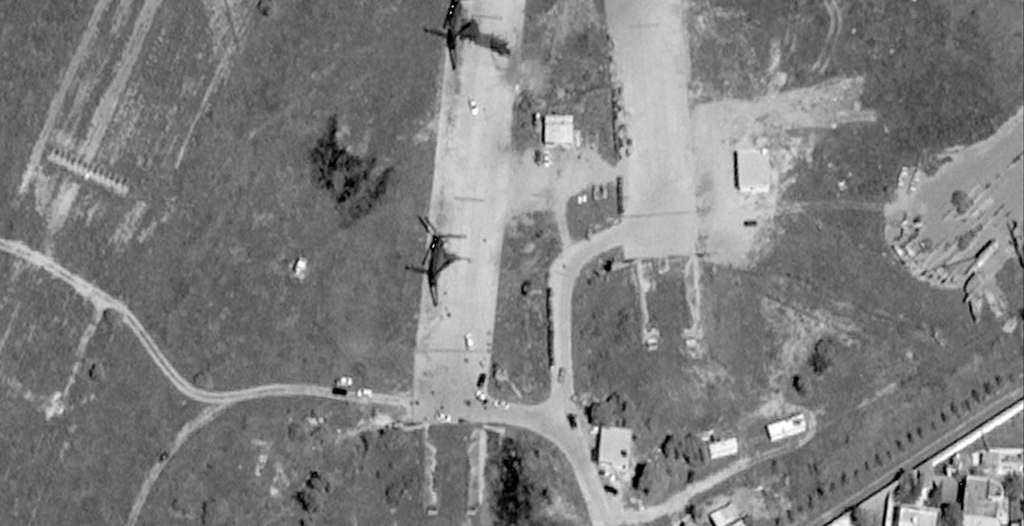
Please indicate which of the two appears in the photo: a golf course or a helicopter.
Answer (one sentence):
Looking from above, you can make out a helicopter.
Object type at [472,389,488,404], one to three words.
vehicle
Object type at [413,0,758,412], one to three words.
airport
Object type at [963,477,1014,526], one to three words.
house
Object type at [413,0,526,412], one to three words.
runway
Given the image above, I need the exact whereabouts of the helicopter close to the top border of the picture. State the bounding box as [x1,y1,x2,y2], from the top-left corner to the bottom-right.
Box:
[426,0,473,63]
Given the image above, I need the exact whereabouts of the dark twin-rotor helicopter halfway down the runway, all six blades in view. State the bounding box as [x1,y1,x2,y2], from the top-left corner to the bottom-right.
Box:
[407,215,467,303]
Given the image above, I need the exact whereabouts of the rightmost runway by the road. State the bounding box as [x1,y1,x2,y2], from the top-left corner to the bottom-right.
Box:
[607,0,699,258]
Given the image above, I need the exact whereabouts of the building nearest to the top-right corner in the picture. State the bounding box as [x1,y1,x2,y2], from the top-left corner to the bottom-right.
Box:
[737,150,770,191]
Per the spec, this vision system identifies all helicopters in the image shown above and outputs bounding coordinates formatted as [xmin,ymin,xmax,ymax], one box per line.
[407,215,467,303]
[426,0,473,63]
